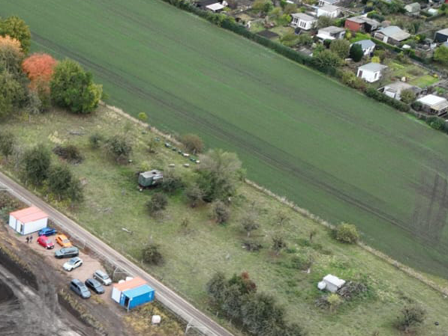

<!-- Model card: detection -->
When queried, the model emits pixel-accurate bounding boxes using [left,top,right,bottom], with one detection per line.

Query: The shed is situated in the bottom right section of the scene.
[320,269,349,293]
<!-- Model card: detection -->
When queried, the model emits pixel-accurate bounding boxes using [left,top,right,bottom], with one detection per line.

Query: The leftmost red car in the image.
[36,234,54,249]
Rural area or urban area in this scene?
rural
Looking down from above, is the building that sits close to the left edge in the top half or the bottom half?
bottom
